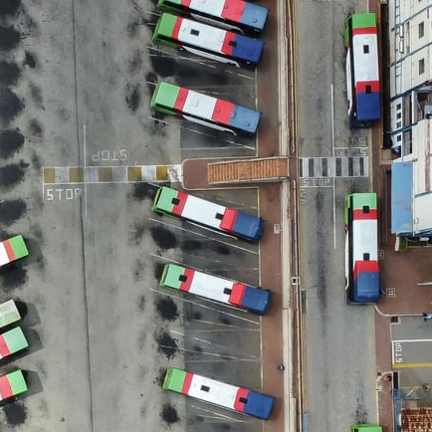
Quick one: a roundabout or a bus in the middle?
bus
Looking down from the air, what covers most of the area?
paved ground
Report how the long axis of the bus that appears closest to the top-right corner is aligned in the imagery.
up and down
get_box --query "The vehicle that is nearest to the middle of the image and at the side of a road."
[147,187,264,244]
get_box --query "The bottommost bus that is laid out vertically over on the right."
[340,191,378,305]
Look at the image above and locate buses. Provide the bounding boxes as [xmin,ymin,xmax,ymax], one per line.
[147,14,264,70]
[146,83,262,139]
[0,327,29,358]
[147,187,264,244]
[153,264,271,316]
[0,369,28,400]
[0,300,21,327]
[156,368,273,421]
[340,191,378,305]
[151,0,269,37]
[340,12,379,128]
[0,235,29,267]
